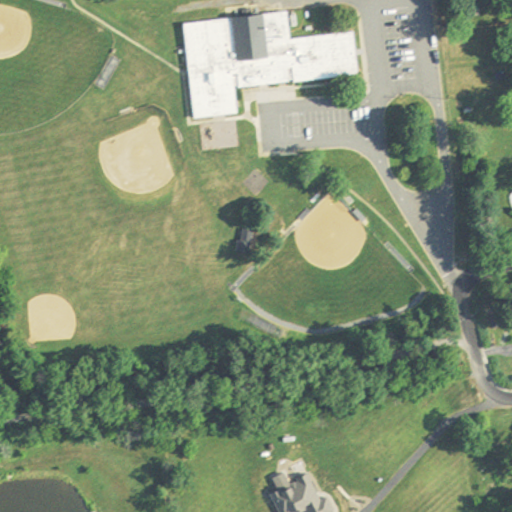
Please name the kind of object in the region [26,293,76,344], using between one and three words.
baseball field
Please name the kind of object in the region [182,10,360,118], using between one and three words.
building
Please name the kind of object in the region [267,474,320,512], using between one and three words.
house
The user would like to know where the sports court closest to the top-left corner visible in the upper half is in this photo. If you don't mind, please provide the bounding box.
[200,122,238,150]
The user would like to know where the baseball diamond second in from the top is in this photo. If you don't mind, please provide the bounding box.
[98,114,175,194]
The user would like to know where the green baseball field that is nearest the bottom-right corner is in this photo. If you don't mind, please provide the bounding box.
[239,194,422,328]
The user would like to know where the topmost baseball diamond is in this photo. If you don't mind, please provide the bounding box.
[0,0,114,132]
